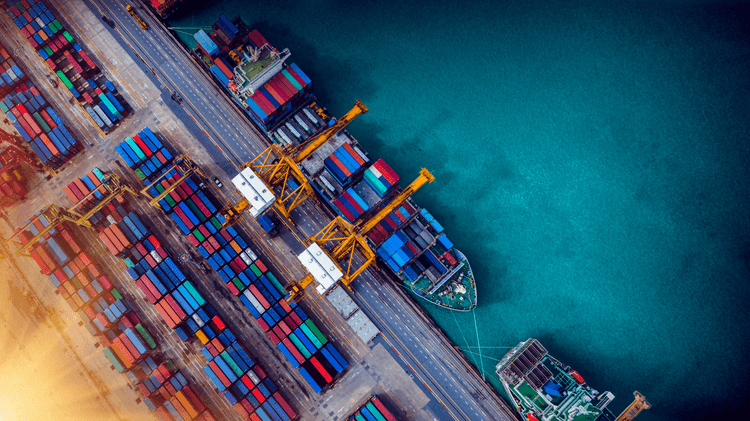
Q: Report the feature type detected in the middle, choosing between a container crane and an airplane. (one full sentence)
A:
It is a container crane that can be seen in the middle.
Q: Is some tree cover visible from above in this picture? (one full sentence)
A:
No, there's no tree cover in this view.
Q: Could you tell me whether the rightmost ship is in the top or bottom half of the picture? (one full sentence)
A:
Seen from above, the rightmost ship lies in the bottom half of the view.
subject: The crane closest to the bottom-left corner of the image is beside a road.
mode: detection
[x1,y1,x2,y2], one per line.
[0,201,90,266]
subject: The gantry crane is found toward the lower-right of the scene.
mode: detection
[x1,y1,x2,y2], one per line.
[613,393,647,421]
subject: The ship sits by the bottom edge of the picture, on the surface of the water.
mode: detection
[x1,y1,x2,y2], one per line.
[491,336,622,421]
